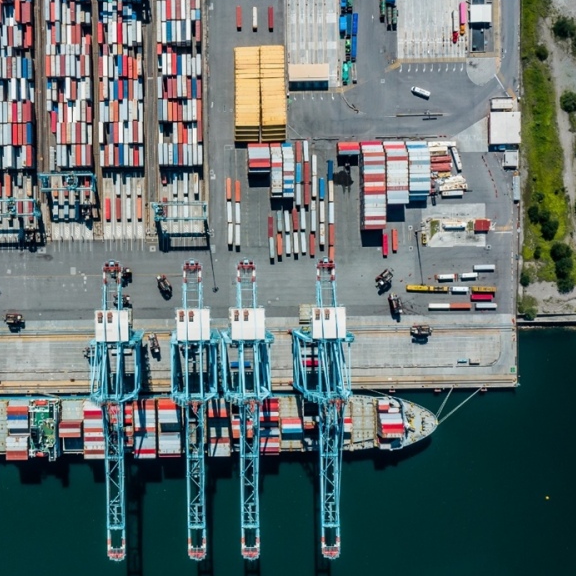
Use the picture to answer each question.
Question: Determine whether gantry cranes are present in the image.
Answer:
Yes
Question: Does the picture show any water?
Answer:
Yes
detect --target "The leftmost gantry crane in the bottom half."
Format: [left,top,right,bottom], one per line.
[91,262,150,561]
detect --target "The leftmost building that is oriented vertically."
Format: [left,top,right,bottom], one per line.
[471,23,485,53]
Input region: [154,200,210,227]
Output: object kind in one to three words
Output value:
container crane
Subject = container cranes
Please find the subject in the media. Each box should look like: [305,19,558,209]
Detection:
[167,261,223,560]
[282,260,354,558]
[40,173,100,201]
[154,200,210,227]
[217,261,275,559]
[91,262,150,561]
[0,197,43,225]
